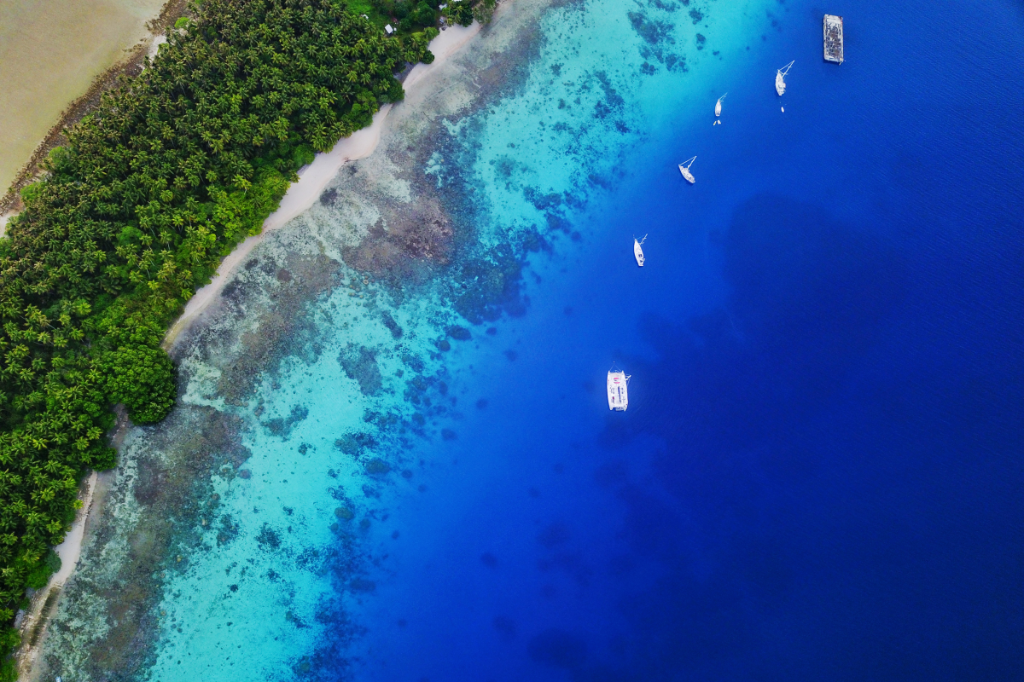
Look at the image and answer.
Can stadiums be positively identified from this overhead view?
No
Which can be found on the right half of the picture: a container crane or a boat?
boat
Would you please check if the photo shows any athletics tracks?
No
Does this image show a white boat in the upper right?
Yes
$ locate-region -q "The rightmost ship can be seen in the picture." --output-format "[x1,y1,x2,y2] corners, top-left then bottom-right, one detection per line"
[823,13,844,64]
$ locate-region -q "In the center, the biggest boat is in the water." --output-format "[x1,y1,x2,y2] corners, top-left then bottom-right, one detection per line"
[607,371,630,412]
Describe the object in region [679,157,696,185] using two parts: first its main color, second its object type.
white boat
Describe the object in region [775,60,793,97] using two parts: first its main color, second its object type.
white boat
